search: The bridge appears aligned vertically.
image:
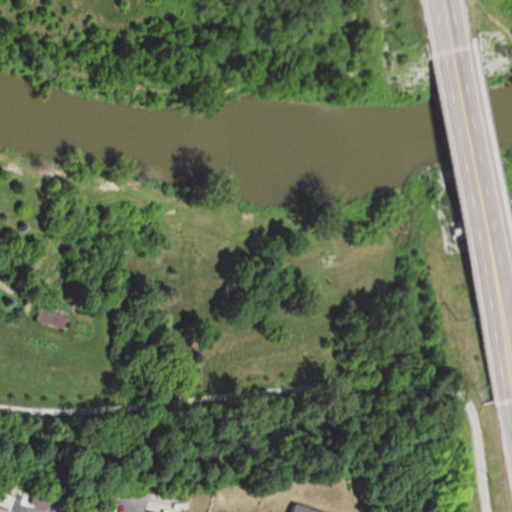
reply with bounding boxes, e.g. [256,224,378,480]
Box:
[430,28,512,407]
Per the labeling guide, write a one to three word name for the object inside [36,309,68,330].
building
